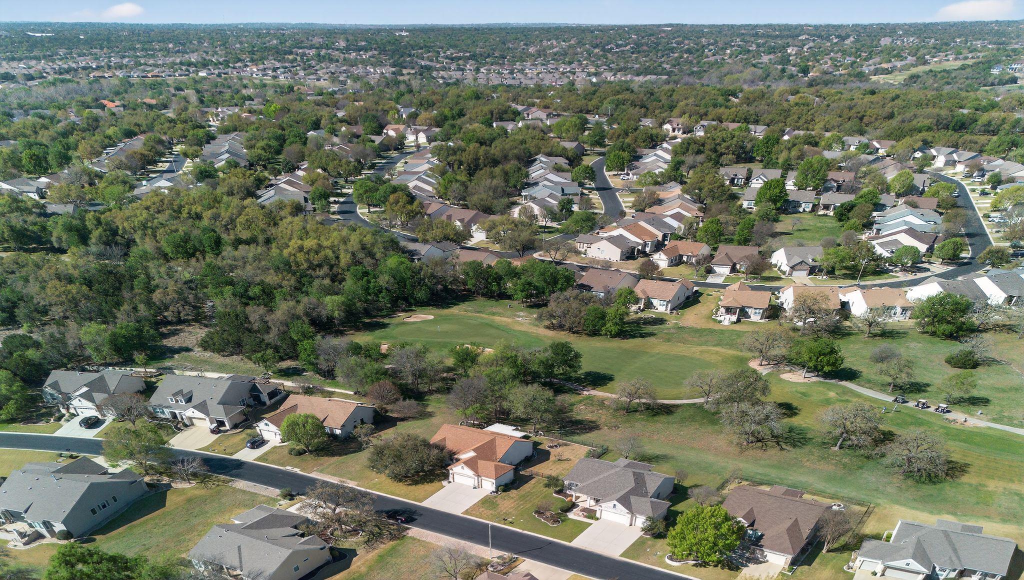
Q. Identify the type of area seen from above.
residential area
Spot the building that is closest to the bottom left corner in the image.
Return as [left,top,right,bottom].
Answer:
[0,455,153,535]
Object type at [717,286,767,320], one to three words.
house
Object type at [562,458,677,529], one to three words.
house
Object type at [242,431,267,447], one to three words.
car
